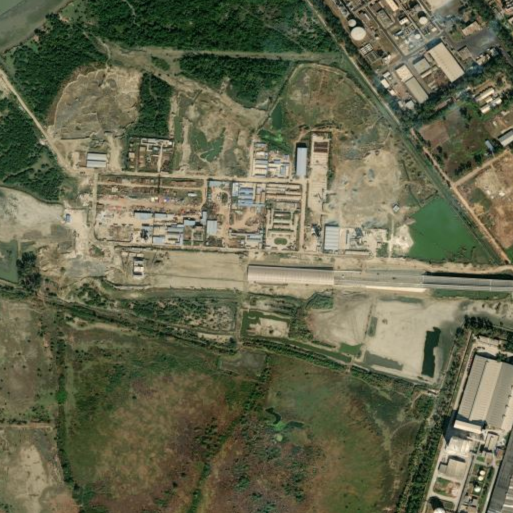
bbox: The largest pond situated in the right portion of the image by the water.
[409,194,479,261]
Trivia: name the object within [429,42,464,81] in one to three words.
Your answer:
building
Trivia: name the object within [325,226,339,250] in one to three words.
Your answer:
building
